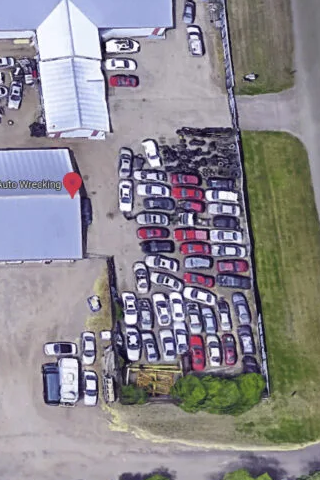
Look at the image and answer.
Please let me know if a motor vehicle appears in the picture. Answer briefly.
Yes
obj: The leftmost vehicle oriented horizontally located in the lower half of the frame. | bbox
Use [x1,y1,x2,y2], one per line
[44,341,76,356]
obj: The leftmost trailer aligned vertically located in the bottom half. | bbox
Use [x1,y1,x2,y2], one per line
[40,362,63,407]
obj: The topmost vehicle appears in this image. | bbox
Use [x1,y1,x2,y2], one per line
[181,0,197,24]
